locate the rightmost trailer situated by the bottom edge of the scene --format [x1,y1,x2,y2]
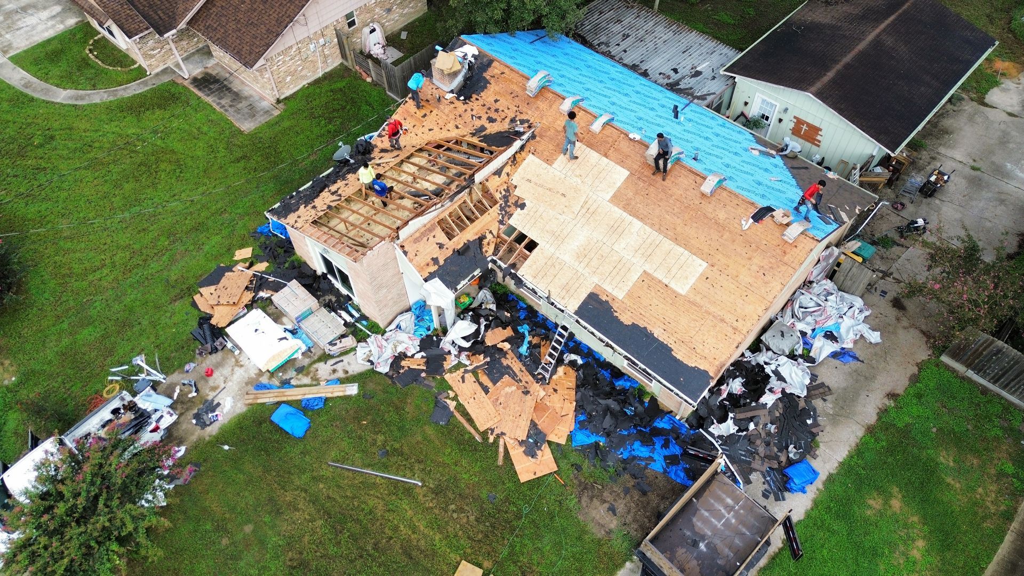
[615,445,801,576]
